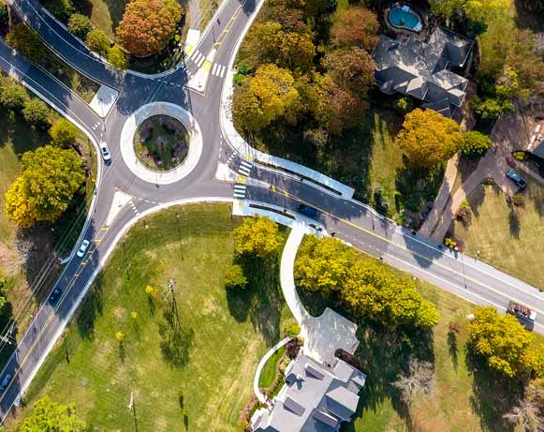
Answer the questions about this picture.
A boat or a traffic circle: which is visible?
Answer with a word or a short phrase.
traffic circle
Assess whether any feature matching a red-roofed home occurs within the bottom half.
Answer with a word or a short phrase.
No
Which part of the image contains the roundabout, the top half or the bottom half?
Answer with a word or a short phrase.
top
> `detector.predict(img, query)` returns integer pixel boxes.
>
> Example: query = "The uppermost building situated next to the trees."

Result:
[373,23,477,121]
